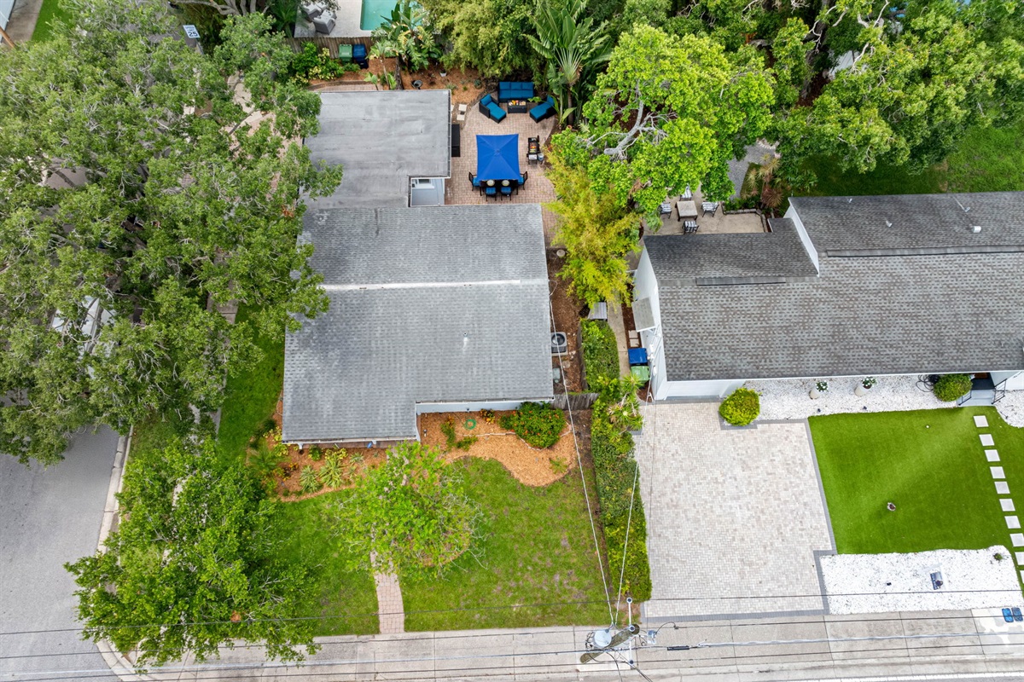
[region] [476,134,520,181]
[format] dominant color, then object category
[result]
blue umbrella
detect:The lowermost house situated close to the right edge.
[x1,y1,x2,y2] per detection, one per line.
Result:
[632,191,1024,403]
